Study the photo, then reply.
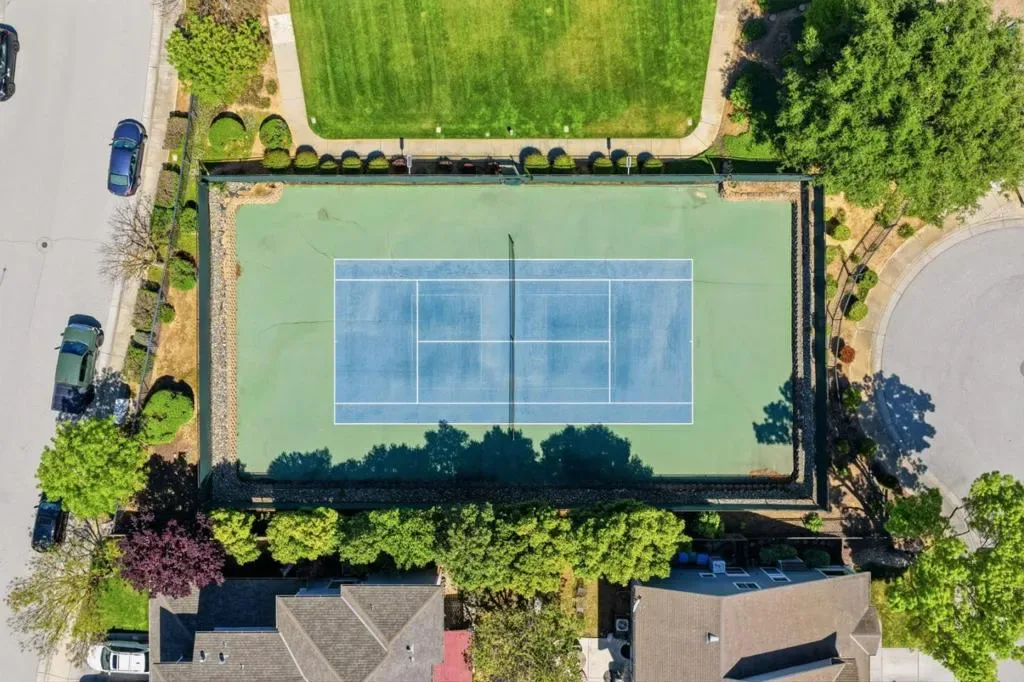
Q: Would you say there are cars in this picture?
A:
Yes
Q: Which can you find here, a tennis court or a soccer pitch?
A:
tennis court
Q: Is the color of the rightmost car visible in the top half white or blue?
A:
blue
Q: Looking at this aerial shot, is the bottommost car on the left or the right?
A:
left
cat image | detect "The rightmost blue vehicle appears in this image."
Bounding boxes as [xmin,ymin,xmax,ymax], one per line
[107,122,147,198]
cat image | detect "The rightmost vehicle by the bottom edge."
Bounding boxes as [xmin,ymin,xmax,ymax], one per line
[88,638,149,677]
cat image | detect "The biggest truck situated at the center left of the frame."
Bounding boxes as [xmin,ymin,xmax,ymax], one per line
[54,320,104,418]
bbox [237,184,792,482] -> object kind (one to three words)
tennis court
